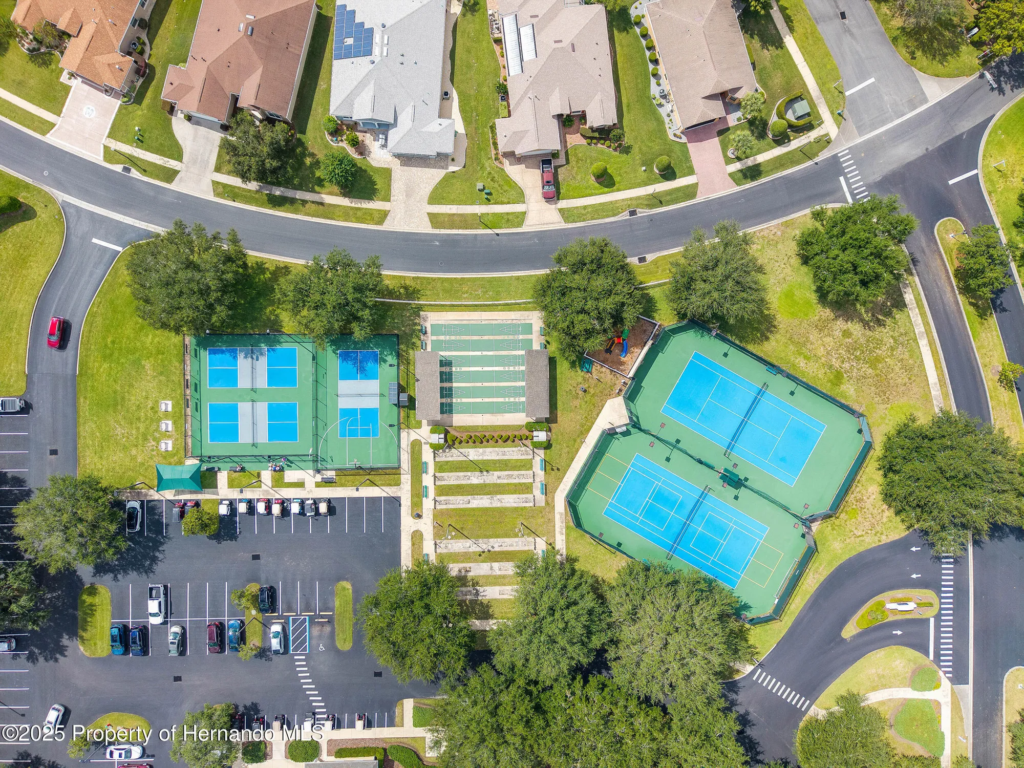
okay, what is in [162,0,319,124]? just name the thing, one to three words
house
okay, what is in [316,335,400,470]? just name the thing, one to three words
basketball court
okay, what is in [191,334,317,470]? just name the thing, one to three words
sports court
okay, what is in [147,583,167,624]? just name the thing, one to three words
vehicle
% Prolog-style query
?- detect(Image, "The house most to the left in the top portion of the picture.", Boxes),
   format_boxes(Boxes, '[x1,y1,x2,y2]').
[10,0,150,93]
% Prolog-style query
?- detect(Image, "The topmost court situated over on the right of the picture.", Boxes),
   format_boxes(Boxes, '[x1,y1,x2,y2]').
[624,321,863,518]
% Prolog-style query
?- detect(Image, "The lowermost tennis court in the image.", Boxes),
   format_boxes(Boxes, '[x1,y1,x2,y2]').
[566,423,808,619]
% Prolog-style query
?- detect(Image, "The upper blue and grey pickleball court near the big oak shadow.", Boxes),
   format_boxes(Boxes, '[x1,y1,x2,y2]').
[207,347,298,389]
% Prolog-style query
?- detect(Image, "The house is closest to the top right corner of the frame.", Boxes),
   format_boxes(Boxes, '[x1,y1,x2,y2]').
[643,0,756,134]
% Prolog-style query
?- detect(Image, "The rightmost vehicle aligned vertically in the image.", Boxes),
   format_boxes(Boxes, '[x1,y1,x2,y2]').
[540,158,557,200]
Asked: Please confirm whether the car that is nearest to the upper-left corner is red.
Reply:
Yes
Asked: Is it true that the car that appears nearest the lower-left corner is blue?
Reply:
No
